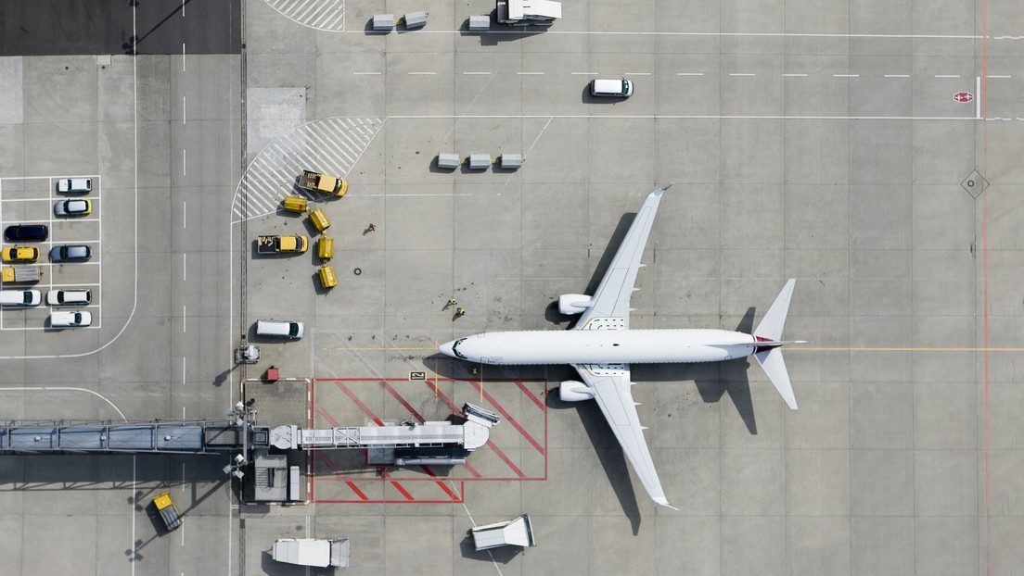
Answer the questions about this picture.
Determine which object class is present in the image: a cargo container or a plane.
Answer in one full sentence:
Looking from above, you can make out a plane.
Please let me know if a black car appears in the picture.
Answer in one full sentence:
Yes, a black car can be made out from above.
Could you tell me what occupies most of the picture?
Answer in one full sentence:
The largest share of the image is taken up by paved ground.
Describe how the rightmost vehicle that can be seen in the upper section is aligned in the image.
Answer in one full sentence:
The rightmost vehicle that can be seen in the upper section is laid out horizontally.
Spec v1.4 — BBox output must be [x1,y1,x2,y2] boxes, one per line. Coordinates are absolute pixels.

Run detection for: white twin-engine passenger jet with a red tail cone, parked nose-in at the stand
[438,182,809,508]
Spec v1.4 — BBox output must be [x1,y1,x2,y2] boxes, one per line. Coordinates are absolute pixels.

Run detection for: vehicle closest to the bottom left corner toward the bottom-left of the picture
[151,492,183,531]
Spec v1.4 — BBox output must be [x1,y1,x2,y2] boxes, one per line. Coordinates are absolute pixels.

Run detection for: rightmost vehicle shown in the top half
[590,77,634,97]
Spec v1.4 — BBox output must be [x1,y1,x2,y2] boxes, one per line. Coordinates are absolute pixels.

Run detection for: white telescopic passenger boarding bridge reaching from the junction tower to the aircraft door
[269,402,503,465]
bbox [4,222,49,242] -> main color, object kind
black car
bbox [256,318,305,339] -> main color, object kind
white vehicle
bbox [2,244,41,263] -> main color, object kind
yellow car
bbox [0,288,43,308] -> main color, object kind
white vehicle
